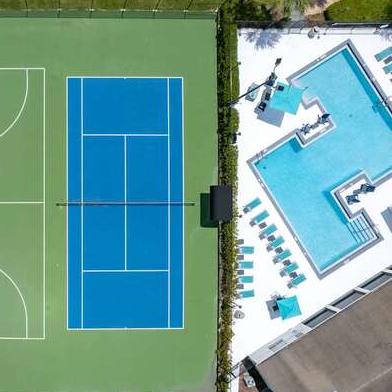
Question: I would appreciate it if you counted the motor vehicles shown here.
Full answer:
I count no motor vehicles.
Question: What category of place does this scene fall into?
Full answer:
The picture captures a sports ground.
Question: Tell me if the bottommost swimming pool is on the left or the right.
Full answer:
The bottommost swimming pool sits on the right side.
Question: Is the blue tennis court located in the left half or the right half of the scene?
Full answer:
The blue tennis court sits on the left side.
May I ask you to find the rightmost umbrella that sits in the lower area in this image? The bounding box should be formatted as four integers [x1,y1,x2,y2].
[273,295,302,320]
